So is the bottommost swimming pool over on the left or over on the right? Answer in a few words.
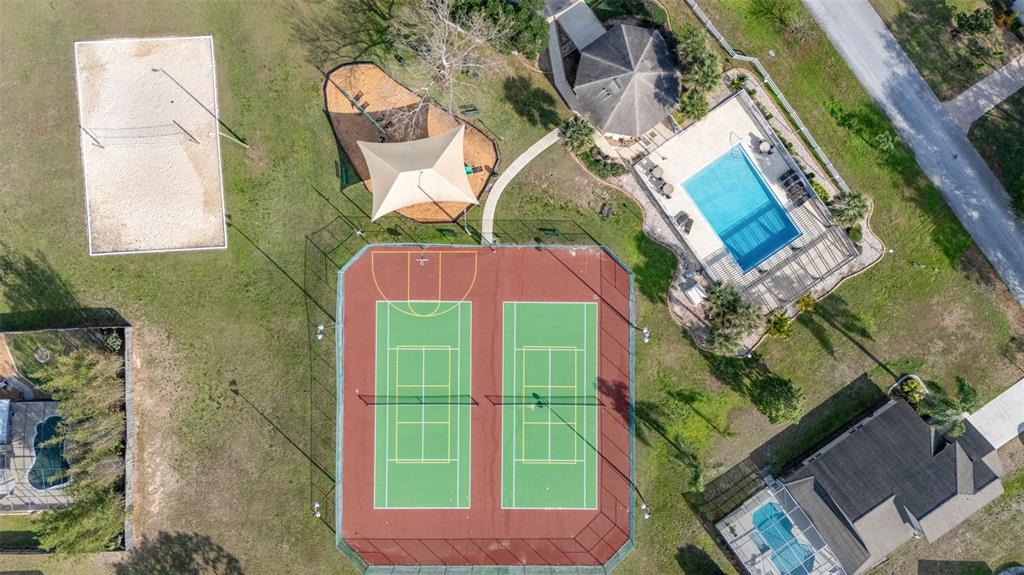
right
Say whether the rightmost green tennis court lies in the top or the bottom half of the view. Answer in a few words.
bottom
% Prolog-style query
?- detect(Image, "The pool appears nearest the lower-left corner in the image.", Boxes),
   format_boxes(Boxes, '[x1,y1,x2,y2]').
[27,414,73,492]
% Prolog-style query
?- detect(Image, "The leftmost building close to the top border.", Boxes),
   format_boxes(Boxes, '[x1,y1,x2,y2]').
[573,24,681,136]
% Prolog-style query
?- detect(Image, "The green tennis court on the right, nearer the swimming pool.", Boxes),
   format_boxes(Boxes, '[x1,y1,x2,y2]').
[502,302,598,509]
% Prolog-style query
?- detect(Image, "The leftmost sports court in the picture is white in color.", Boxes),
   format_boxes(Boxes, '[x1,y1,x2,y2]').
[74,35,227,255]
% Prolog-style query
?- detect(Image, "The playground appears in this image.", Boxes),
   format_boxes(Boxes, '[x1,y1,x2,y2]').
[323,60,499,223]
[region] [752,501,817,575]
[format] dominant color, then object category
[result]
blue swimming pool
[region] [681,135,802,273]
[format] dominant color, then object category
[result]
blue swimming pool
